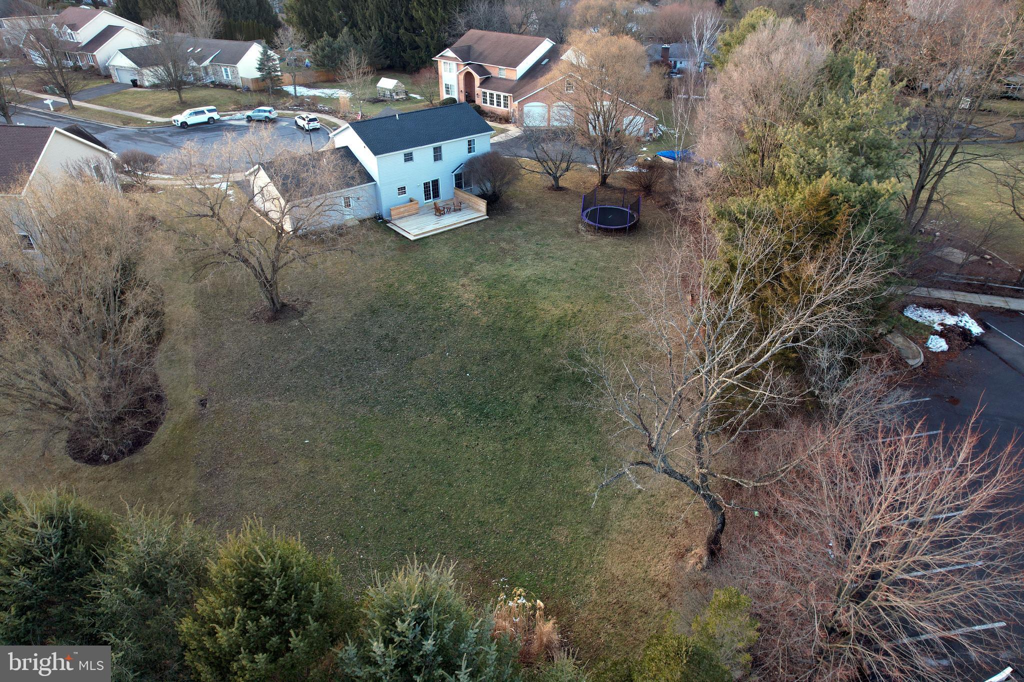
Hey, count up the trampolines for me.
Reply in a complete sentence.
The picture shows just 1 trampoline.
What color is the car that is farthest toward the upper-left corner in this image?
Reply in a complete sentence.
The color of the car that is farthest toward the upper-left corner is white.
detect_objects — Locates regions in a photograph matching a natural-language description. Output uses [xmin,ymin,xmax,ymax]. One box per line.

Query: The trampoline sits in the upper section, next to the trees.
[581,187,638,237]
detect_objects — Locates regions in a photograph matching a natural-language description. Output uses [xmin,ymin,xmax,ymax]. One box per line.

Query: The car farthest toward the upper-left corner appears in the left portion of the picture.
[170,107,219,128]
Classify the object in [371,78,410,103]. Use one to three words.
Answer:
greenhouse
